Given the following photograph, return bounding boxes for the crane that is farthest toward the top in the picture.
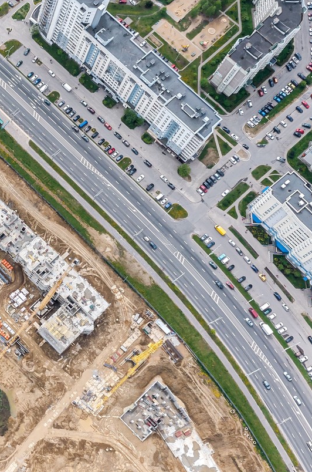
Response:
[0,254,87,358]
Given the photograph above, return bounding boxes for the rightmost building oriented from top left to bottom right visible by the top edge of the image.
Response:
[75,12,218,158]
